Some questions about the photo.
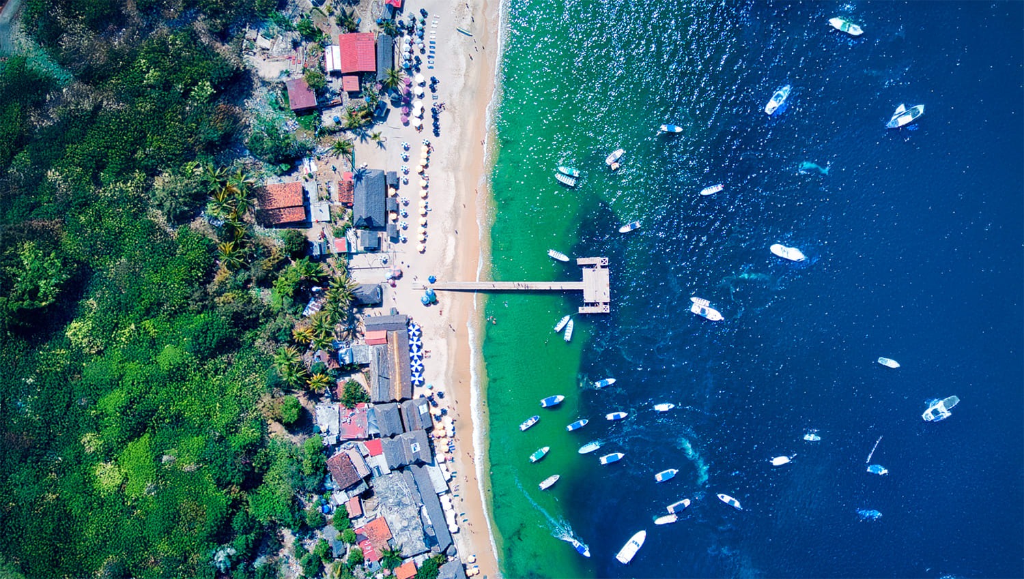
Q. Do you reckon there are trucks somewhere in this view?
No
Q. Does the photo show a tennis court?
No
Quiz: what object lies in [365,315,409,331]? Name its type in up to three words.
building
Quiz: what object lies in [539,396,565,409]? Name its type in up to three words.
boat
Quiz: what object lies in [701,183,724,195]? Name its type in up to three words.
boat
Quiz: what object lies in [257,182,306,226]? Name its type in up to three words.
house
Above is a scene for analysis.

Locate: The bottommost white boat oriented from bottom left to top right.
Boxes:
[616,530,645,566]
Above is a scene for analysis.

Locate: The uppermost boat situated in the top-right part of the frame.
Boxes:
[826,16,864,33]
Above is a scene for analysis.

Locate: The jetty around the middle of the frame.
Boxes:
[412,258,609,313]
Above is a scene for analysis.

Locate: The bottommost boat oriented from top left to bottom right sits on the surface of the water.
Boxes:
[571,539,590,557]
